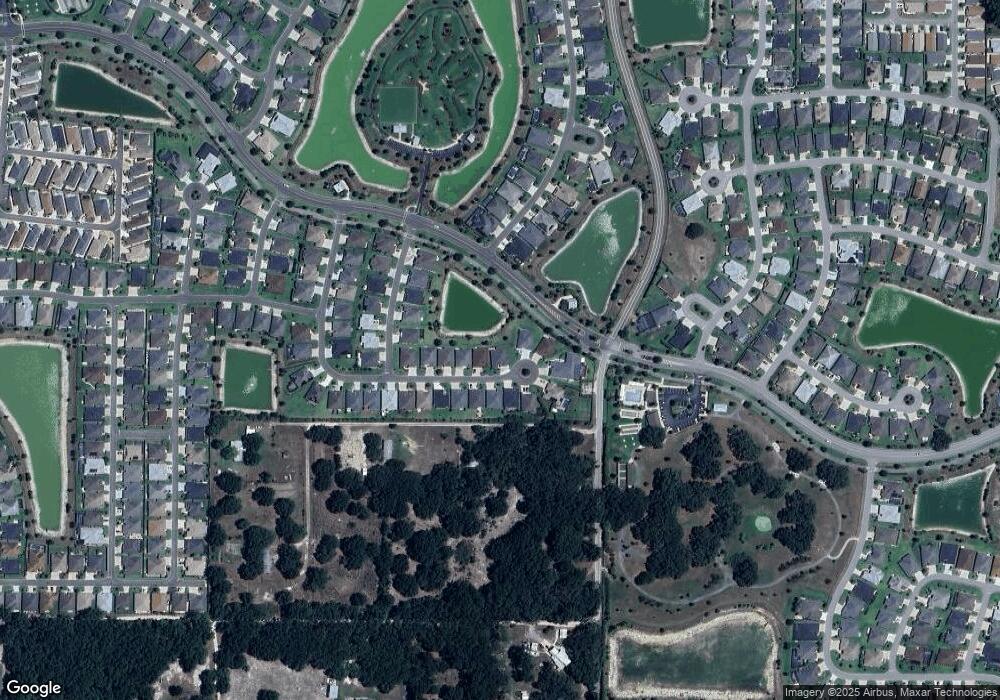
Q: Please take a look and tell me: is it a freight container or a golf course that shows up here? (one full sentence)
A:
The one in the frame is a golf course.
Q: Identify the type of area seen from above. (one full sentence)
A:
What you see here is a residential area.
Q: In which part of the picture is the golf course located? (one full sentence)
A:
The golf course is located in the top region of the scene.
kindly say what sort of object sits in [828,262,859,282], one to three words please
house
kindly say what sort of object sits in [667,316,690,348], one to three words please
house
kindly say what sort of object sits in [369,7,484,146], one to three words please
golf course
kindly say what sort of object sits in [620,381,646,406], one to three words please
swimming pool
